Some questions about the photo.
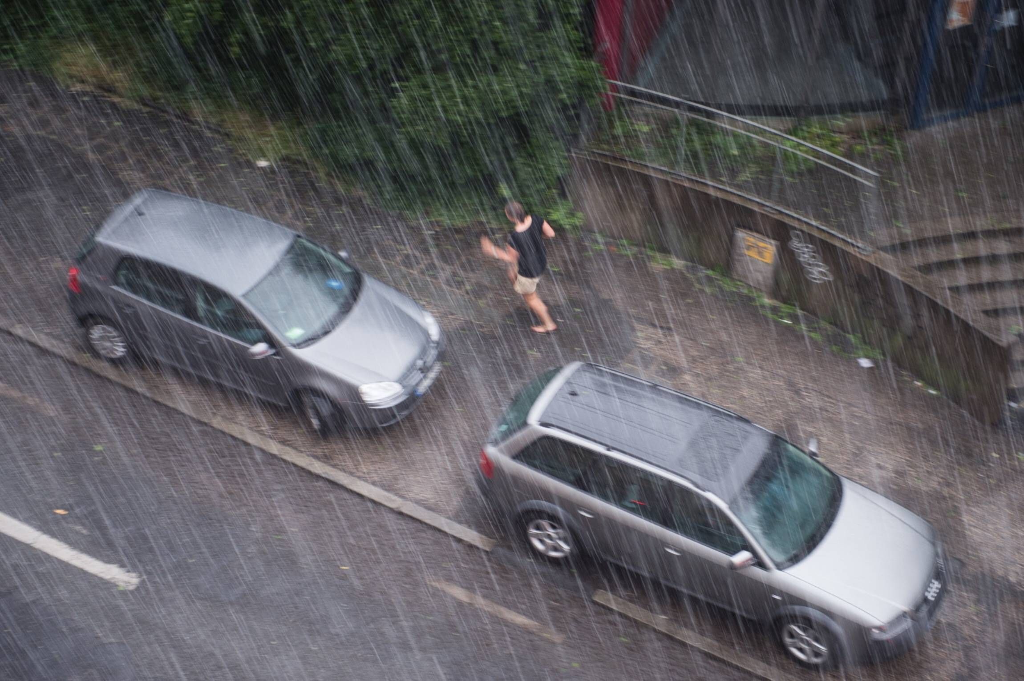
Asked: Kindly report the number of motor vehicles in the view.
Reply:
2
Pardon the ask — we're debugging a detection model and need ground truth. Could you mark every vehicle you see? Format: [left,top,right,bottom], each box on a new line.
[72,186,442,440]
[487,362,949,667]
